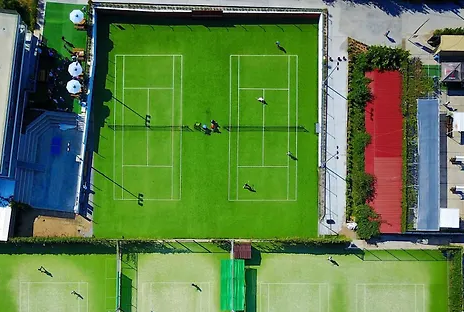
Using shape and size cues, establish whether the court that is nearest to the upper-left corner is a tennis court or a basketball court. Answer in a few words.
tennis court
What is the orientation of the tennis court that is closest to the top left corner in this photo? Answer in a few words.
up and down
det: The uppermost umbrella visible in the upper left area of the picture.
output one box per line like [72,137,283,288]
[70,10,85,27]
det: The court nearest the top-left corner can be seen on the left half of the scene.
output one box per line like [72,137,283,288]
[112,52,185,203]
